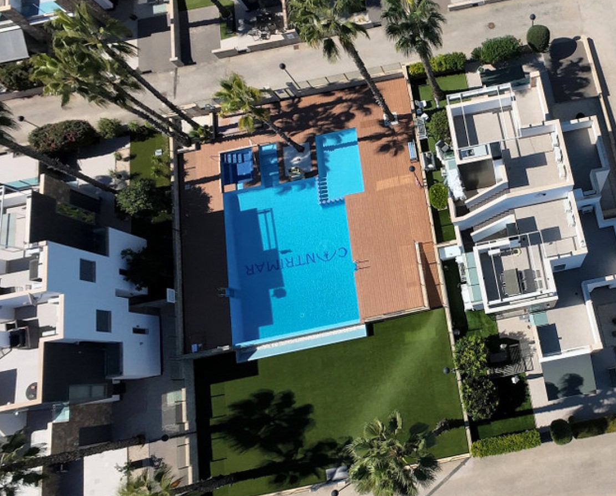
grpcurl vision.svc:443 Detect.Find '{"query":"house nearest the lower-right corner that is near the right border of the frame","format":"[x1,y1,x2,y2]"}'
[439,193,616,401]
